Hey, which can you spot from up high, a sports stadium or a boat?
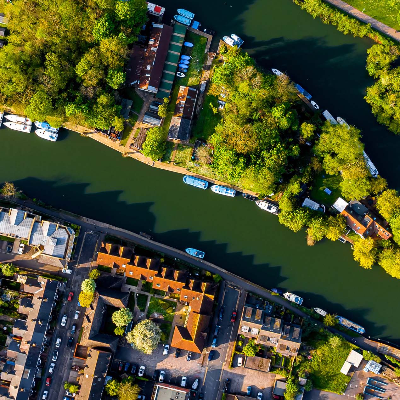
boat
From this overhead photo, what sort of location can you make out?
residential area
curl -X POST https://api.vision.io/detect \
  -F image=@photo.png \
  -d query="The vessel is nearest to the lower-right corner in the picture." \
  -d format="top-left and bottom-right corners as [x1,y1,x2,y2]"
[335,314,365,334]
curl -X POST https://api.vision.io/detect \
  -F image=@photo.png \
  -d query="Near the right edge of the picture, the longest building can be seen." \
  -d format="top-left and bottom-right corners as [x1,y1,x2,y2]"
[329,196,392,241]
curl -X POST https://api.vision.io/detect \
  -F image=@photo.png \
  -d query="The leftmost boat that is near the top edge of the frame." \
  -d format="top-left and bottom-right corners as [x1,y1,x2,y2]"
[150,1,166,17]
